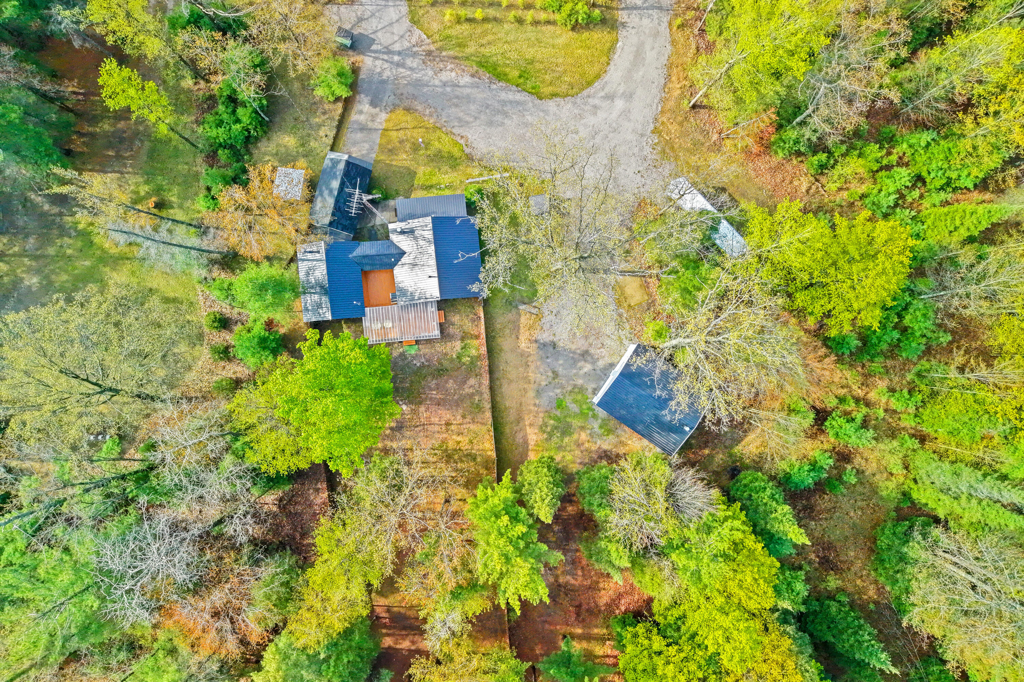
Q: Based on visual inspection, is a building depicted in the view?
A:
Yes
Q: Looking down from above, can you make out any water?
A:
No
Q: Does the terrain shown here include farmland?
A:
No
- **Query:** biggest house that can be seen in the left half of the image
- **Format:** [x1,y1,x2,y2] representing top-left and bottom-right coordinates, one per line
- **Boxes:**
[296,193,483,323]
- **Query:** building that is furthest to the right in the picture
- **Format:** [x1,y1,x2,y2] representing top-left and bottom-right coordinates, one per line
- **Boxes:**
[593,342,714,457]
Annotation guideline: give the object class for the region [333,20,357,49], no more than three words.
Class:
shed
